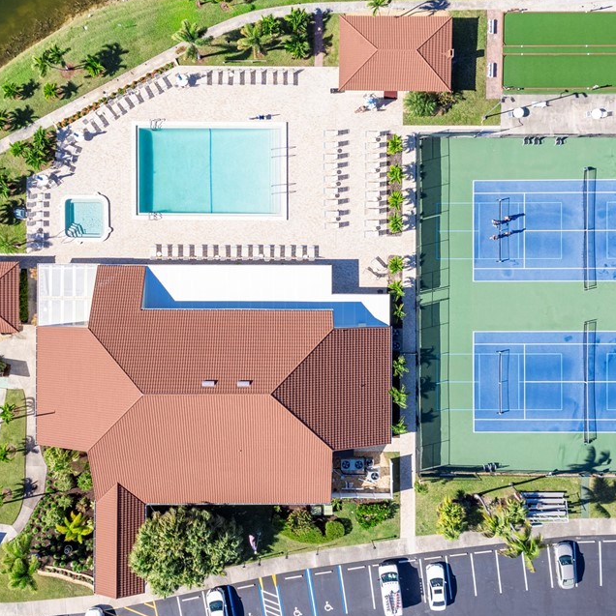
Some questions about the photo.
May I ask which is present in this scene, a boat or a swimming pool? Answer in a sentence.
I can see a swimming pool in this picture.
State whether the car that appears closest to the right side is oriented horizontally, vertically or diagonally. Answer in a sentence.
In this picture, the car that appears closest to the right side lies vertically.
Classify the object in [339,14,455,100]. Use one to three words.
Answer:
building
